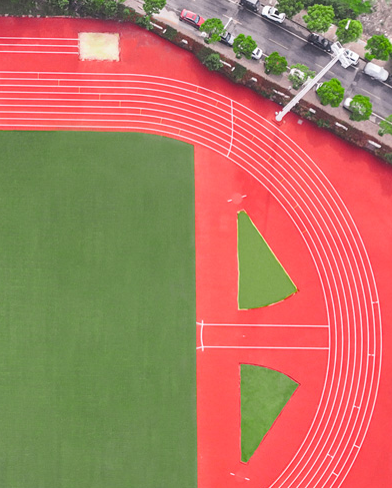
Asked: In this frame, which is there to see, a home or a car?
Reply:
car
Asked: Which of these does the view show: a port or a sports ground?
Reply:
sports ground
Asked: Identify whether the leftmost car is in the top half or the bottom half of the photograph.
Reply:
top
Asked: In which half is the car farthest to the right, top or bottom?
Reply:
top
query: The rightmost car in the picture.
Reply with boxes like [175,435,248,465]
[360,59,389,83]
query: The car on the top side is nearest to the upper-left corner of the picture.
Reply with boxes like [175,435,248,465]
[178,8,204,30]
